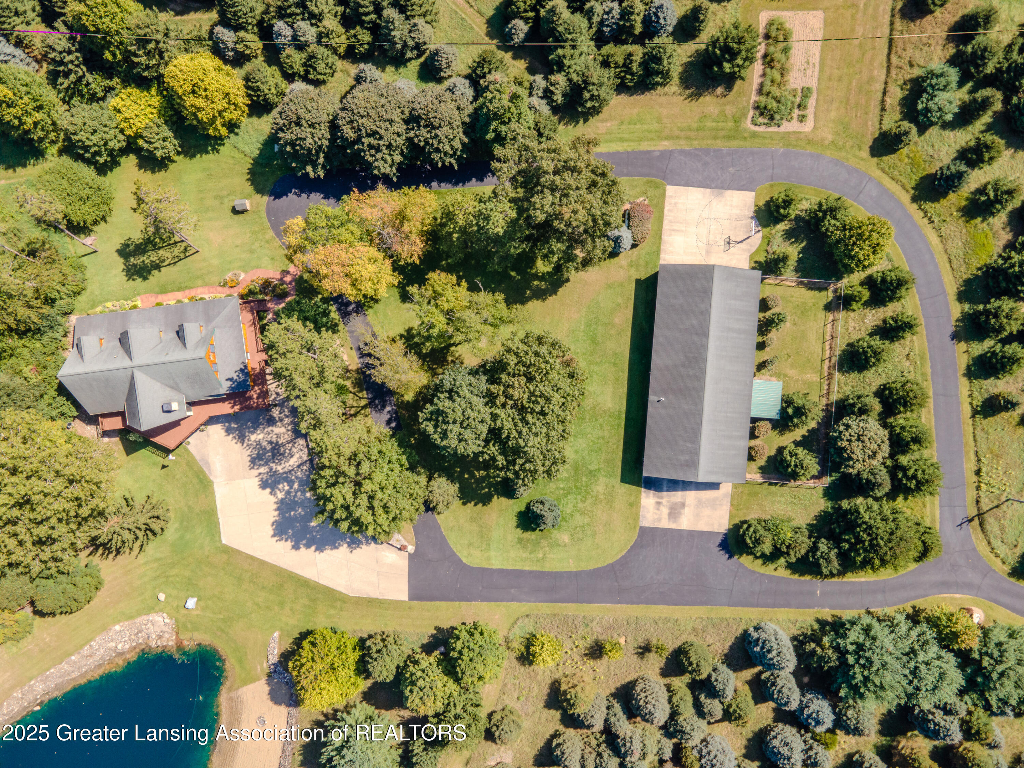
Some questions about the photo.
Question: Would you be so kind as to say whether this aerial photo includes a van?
No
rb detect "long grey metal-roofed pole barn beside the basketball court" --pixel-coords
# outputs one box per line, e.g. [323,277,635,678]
[641,264,762,483]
